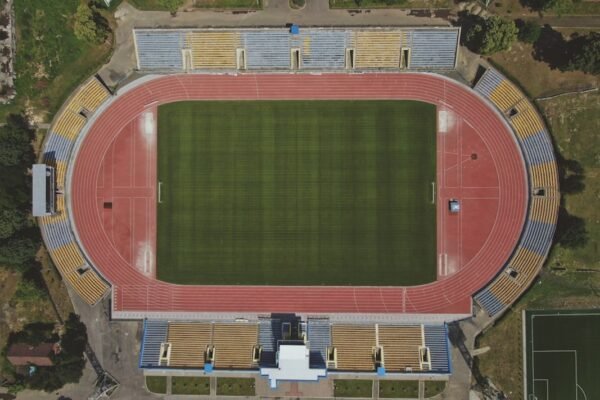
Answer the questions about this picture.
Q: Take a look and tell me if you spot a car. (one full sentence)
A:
No, there's no car here.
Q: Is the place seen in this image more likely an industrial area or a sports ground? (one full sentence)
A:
What you see here is a sports ground.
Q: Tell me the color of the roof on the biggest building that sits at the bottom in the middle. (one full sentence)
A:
The color of the roof on the biggest building that sits at the bottom in the middle is white.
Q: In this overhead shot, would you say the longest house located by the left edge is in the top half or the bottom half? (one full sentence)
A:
Seen from above, the longest house located by the left edge lies in the bottom half of the view.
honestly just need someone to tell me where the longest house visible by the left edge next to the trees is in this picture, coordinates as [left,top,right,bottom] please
[6,342,57,365]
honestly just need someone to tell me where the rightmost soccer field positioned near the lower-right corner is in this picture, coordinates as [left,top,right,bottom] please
[523,309,600,400]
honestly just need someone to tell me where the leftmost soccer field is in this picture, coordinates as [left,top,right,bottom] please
[157,100,437,285]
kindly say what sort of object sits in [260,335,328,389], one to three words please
building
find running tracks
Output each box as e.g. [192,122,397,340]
[68,70,530,319]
